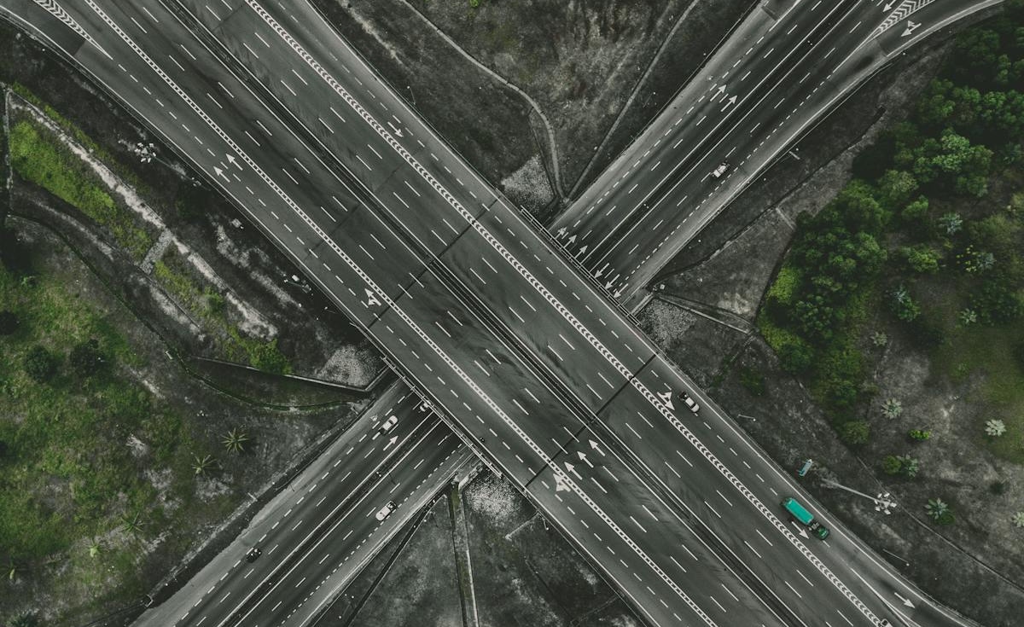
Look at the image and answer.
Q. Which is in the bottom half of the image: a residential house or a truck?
truck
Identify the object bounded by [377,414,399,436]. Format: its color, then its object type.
white truck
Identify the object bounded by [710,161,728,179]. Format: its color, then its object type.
white car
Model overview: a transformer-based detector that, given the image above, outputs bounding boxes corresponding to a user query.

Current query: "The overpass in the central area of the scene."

[358,190,665,496]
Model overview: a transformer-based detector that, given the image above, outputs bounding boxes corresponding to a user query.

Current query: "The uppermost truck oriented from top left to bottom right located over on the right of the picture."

[678,391,701,413]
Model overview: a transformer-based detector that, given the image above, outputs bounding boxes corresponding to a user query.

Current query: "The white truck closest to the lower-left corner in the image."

[376,499,398,521]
